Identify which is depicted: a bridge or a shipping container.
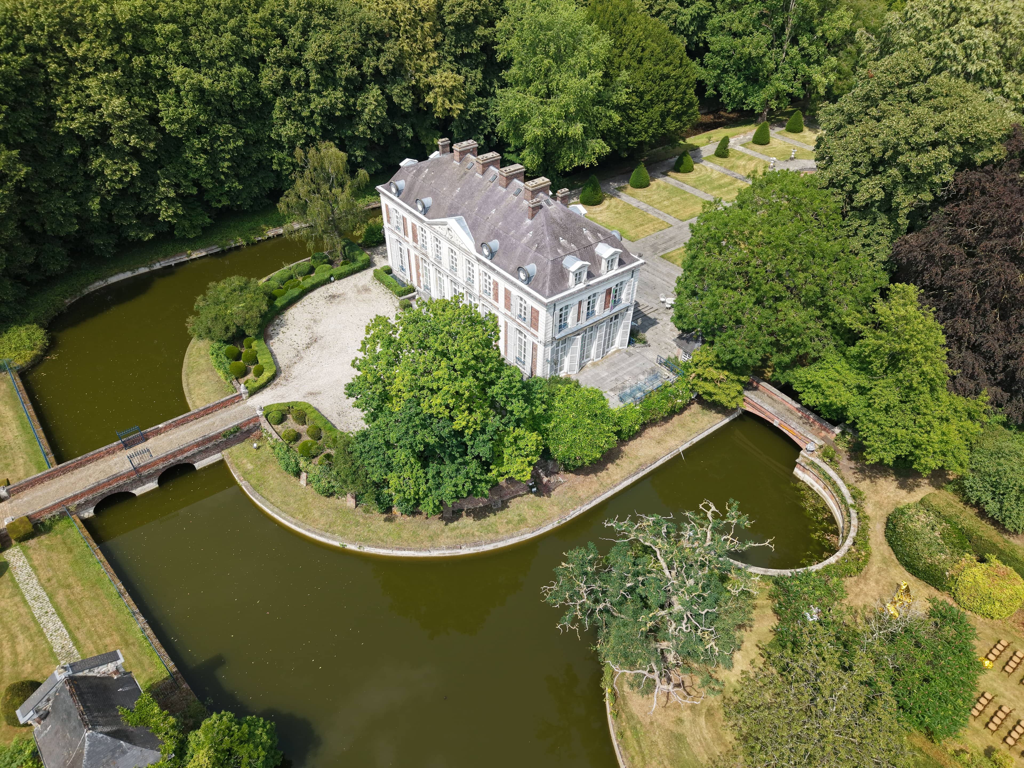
bridge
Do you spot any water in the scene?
Yes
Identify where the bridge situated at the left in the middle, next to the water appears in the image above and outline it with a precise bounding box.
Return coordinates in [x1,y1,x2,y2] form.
[2,392,260,524]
